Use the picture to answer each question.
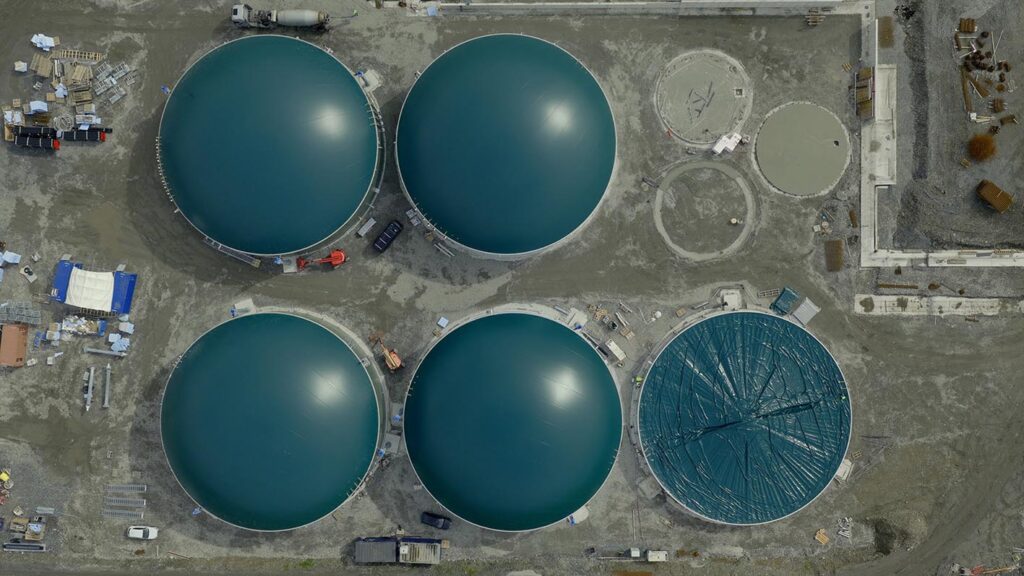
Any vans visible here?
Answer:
Yes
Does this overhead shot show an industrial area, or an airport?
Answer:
industrial area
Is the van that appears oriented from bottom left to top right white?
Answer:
No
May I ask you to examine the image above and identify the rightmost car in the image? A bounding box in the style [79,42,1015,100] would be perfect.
[420,511,452,530]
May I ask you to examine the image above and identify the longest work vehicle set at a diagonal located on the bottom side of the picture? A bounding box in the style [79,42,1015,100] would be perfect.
[368,325,410,374]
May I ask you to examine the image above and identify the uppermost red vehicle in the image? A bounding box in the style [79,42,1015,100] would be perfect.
[301,251,348,267]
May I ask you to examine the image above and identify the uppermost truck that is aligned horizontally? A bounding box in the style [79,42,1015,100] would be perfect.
[233,5,337,32]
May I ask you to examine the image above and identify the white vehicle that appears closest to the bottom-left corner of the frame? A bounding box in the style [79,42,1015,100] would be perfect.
[128,524,159,541]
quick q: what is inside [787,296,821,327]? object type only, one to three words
shed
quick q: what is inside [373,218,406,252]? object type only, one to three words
van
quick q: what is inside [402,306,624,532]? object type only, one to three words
storage tank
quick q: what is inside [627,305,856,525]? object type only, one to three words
storage tank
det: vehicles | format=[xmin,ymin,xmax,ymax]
[420,511,452,530]
[368,325,410,374]
[373,218,406,252]
[128,524,159,541]
[233,5,337,32]
[301,251,348,267]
